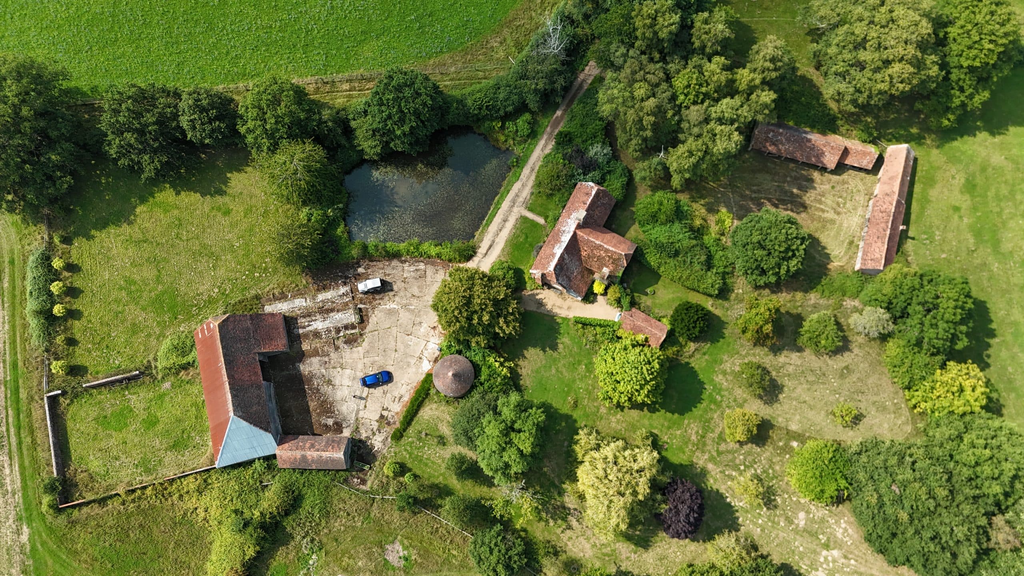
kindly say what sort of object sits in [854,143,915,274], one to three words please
building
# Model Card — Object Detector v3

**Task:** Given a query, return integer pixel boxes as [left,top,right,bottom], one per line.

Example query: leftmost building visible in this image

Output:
[194,313,292,468]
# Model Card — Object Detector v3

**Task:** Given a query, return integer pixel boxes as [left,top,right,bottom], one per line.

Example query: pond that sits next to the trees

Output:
[344,128,512,245]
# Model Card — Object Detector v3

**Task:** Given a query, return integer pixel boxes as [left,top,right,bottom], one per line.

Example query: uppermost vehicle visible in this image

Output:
[357,276,385,294]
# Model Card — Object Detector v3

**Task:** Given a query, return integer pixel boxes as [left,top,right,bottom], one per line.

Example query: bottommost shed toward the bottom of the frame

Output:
[275,436,350,469]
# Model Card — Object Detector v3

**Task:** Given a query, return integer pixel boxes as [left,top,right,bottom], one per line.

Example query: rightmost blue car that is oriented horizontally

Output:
[358,370,393,389]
